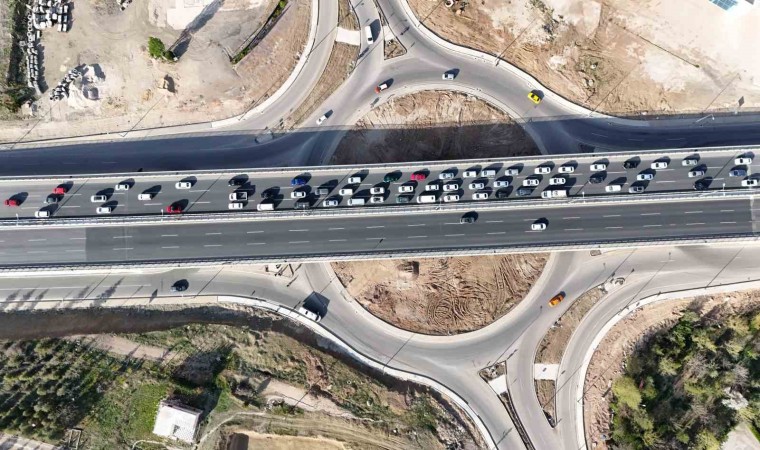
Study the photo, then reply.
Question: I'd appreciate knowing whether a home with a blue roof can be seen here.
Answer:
No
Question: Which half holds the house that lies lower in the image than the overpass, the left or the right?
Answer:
left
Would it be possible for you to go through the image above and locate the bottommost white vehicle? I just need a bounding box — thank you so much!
[297,306,321,323]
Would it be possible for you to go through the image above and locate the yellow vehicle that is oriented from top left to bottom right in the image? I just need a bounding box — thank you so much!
[526,91,543,105]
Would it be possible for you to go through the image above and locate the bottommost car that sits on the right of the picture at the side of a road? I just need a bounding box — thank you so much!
[548,293,565,306]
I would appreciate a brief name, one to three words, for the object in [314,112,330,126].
car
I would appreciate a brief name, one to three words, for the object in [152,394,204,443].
house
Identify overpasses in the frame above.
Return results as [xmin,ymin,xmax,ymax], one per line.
[0,144,760,274]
